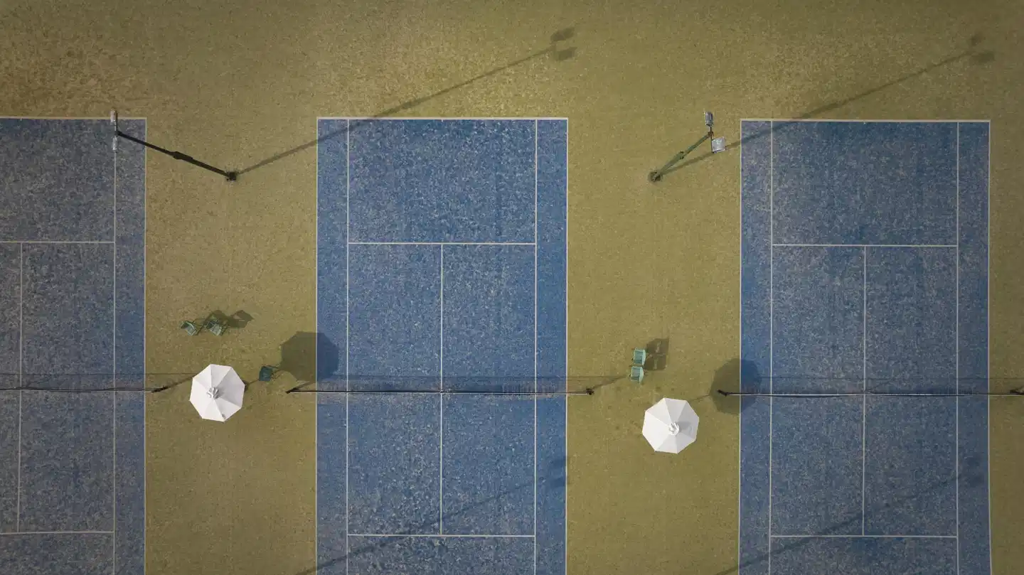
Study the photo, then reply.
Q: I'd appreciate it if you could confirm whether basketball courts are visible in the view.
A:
No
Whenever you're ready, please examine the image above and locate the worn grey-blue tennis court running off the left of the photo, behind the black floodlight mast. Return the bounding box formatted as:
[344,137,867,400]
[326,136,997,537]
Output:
[0,116,146,575]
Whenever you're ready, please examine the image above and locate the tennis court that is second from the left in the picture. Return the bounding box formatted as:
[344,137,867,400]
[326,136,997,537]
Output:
[316,117,568,575]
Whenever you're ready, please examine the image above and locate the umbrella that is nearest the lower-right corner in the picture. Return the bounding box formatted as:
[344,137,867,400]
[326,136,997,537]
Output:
[643,398,699,453]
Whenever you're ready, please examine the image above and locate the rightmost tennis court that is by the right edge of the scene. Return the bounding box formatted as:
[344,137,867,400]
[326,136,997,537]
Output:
[738,118,992,575]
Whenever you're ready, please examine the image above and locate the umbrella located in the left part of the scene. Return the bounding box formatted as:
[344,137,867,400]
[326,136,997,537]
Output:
[190,365,245,420]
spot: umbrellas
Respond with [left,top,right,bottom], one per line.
[643,398,699,453]
[190,365,245,420]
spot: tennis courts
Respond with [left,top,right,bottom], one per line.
[0,116,146,575]
[316,117,568,575]
[738,118,992,575]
